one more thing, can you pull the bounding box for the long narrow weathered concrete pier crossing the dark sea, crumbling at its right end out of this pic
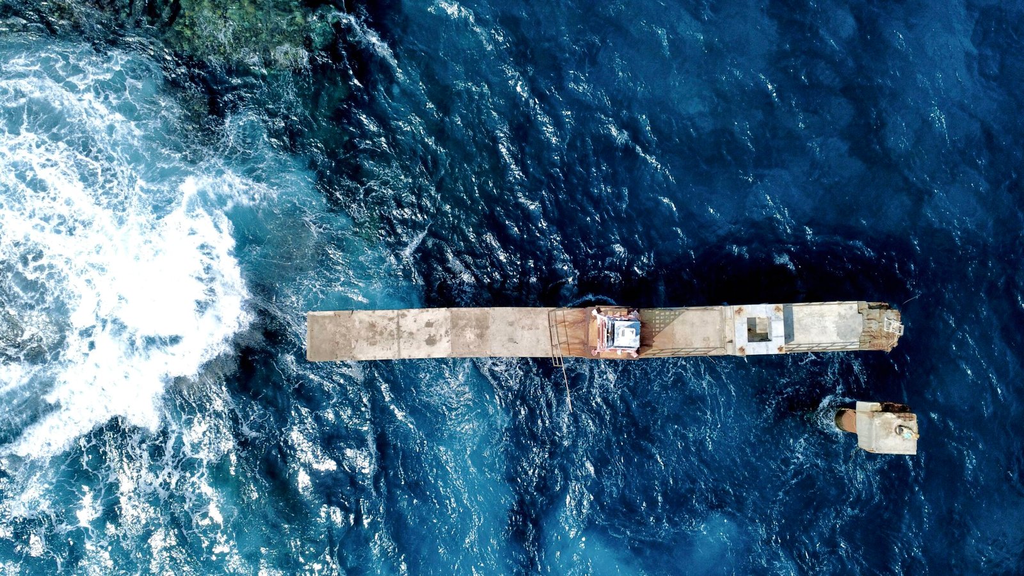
[308,301,901,361]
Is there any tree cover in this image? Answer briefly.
No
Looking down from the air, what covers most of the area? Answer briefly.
water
